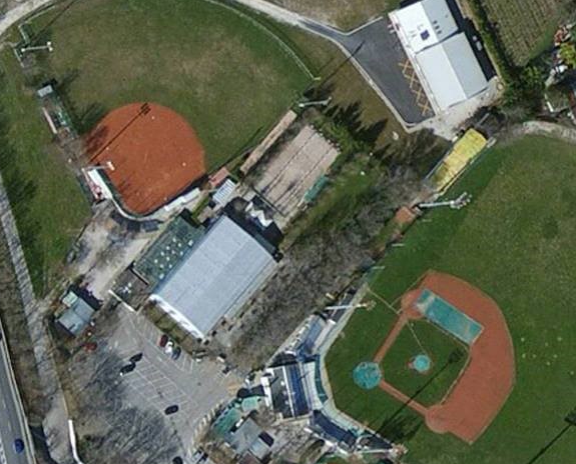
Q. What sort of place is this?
sports ground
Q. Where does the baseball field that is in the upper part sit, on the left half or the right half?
left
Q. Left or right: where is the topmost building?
right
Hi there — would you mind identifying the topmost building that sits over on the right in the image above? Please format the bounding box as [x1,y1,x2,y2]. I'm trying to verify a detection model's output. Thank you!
[392,0,458,52]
